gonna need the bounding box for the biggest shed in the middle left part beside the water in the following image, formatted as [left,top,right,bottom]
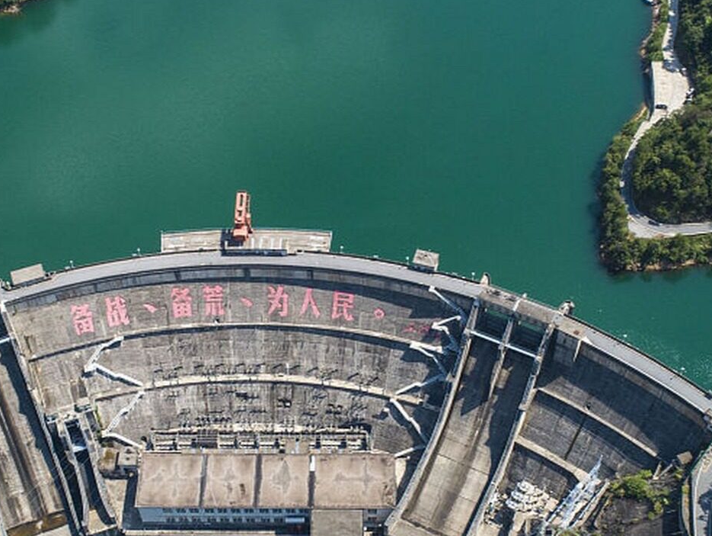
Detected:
[10,264,46,292]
